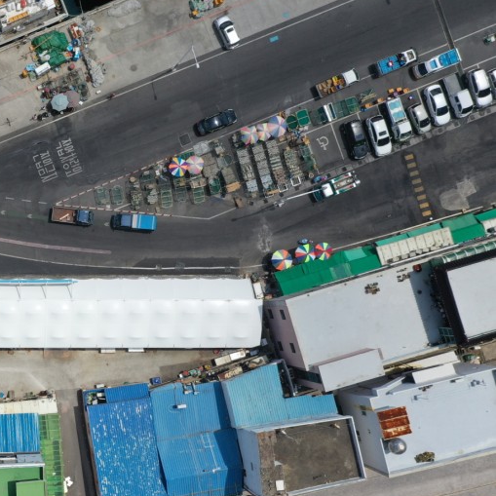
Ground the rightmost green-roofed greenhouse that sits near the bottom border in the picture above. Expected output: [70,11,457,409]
[41,413,64,496]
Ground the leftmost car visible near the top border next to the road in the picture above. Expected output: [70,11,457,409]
[210,13,243,53]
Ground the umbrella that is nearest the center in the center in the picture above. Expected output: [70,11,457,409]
[271,249,292,270]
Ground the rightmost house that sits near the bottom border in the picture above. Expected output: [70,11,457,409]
[339,355,496,477]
